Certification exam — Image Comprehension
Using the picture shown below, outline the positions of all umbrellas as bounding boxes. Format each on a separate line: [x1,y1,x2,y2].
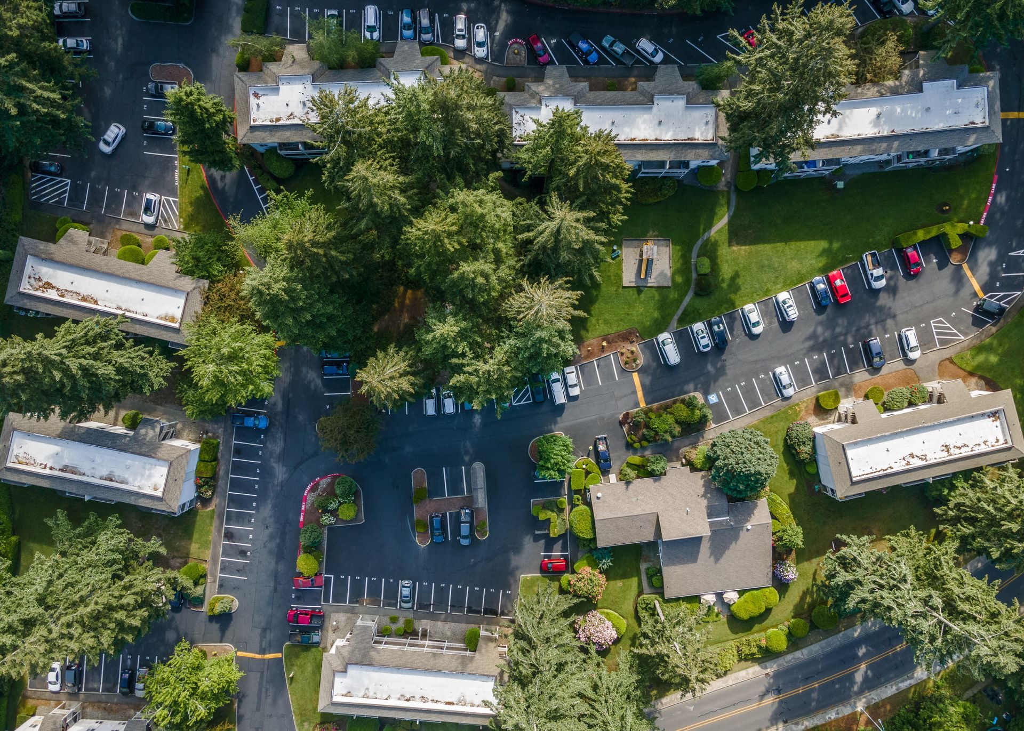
[722,590,738,604]
[699,593,715,606]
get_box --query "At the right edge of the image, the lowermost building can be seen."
[815,379,1024,503]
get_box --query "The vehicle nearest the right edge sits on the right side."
[977,296,1009,319]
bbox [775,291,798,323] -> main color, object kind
white car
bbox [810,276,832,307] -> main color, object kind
blue car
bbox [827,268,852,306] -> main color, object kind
red car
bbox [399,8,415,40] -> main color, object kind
blue car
